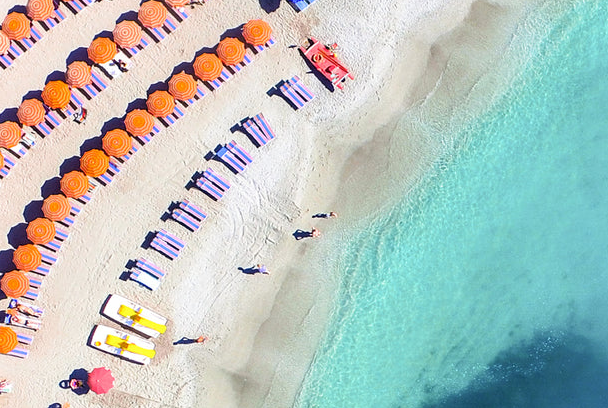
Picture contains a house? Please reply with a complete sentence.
No, no house is visible in the scene.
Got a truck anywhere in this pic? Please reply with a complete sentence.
No, no truck is visible in the scene.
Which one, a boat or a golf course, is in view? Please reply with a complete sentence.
I can see a boat in this picture.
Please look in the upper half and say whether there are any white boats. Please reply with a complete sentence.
No, there is no white boat in the upper half.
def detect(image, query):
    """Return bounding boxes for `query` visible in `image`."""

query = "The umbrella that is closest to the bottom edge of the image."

[85,366,113,394]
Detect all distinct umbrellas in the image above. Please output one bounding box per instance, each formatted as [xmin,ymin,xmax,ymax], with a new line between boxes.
[140,0,169,30]
[0,120,24,150]
[113,20,142,50]
[26,0,55,21]
[12,243,40,272]
[41,80,71,111]
[0,324,19,353]
[102,127,132,156]
[243,18,272,48]
[0,11,29,40]
[192,53,221,82]
[216,37,247,67]
[167,72,198,102]
[85,366,113,394]
[59,169,89,197]
[41,195,70,225]
[81,149,111,180]
[65,60,96,89]
[125,106,154,136]
[15,99,45,129]
[162,0,188,9]
[145,88,175,118]
[25,215,54,245]
[0,271,29,301]
[88,36,119,65]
